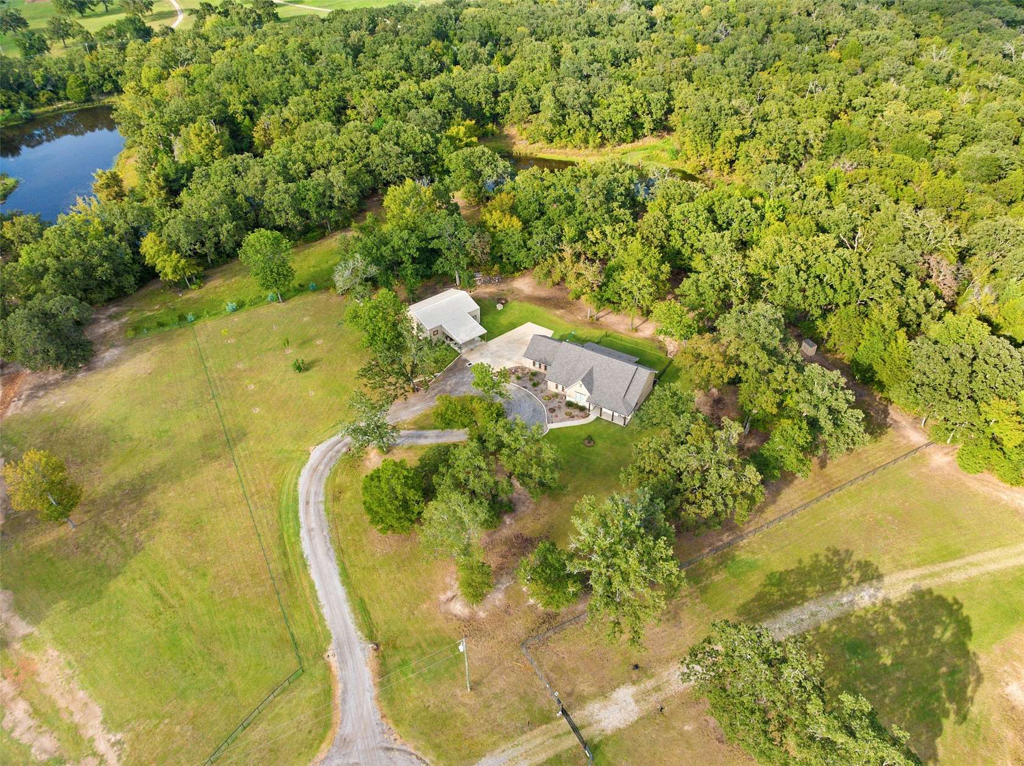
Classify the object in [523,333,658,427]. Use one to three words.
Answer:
house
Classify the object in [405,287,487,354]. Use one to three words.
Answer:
building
